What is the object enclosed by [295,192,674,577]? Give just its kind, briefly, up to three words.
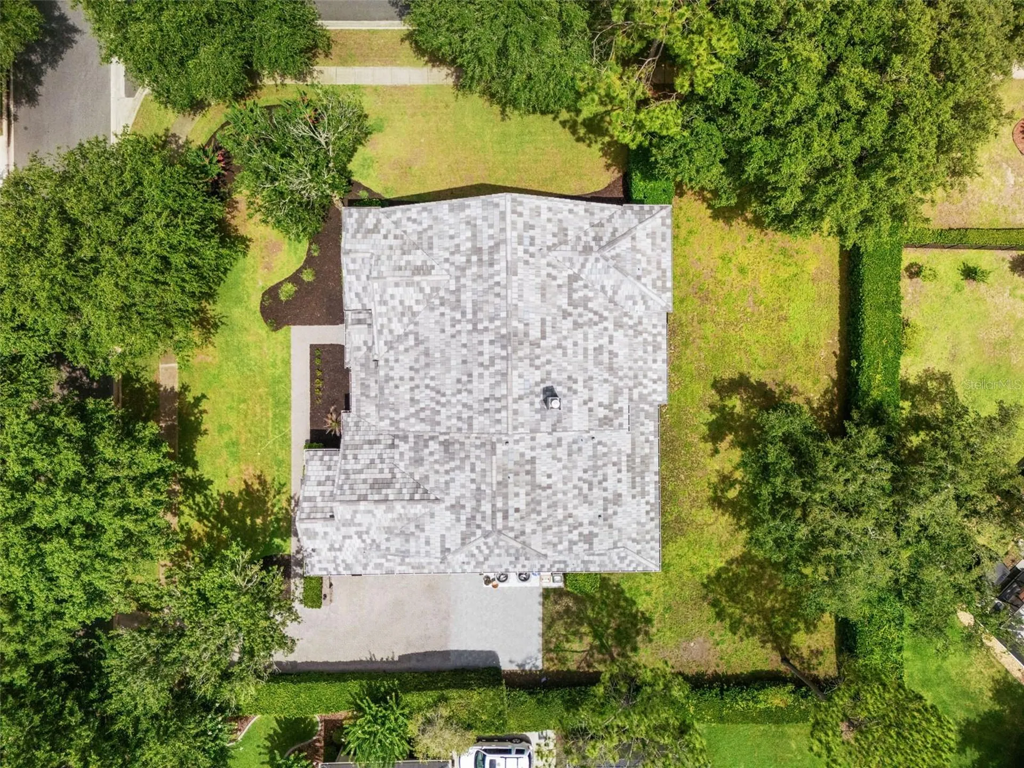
house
